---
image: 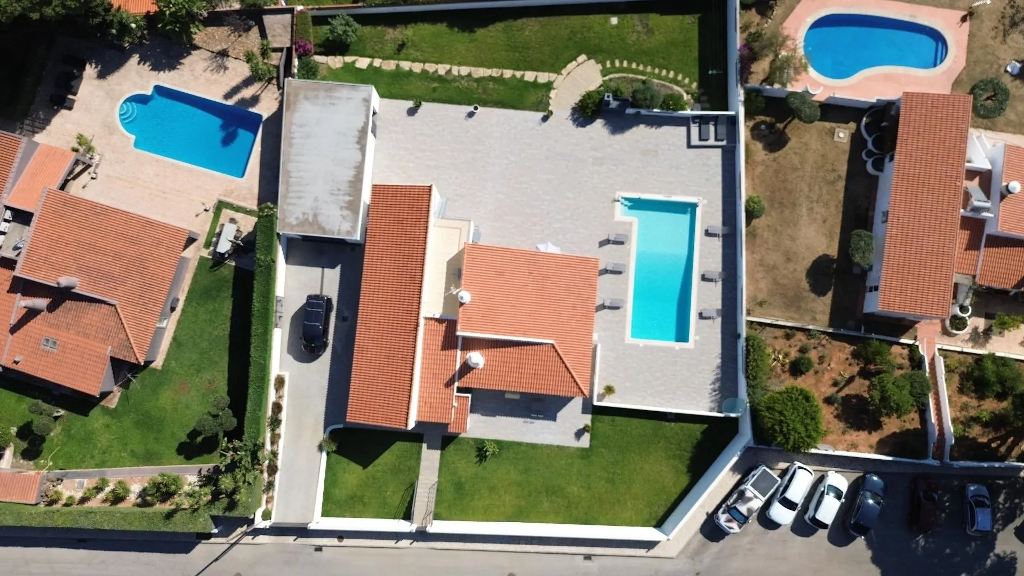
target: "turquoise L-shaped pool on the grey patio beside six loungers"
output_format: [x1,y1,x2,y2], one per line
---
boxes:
[615,190,706,348]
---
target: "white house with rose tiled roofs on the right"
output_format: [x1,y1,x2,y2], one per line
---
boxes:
[858,92,1024,323]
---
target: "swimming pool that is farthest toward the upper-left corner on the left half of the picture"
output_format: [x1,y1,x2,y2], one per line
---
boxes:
[117,83,264,179]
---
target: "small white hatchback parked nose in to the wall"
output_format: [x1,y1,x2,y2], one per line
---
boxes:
[809,470,845,528]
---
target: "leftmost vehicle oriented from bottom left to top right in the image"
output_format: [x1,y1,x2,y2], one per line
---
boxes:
[718,460,780,535]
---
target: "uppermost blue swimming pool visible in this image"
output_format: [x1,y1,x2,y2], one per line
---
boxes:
[795,5,957,88]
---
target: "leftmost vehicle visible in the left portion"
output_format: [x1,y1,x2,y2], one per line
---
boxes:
[299,294,335,356]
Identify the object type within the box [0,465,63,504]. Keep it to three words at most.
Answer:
building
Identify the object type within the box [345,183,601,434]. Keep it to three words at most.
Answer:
house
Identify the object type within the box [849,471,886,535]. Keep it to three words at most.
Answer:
car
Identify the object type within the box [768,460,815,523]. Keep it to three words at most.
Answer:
car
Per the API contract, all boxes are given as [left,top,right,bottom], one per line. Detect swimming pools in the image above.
[117,83,264,179]
[615,190,706,348]
[795,5,957,88]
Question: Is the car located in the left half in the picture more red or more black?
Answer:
black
